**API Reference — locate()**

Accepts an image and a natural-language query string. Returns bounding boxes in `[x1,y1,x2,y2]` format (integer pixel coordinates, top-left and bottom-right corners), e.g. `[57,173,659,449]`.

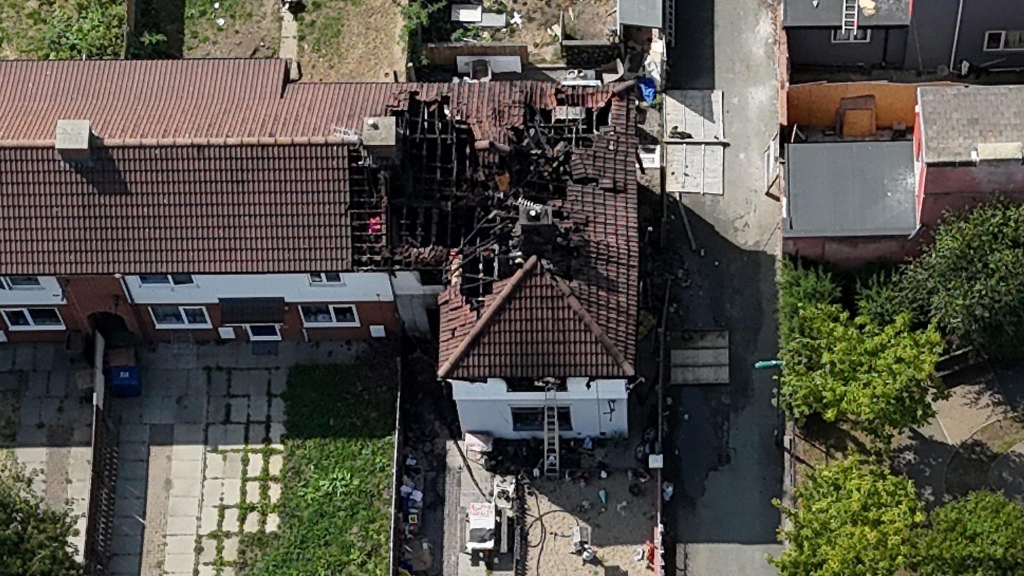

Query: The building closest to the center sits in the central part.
[351,48,642,437]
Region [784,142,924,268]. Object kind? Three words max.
building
